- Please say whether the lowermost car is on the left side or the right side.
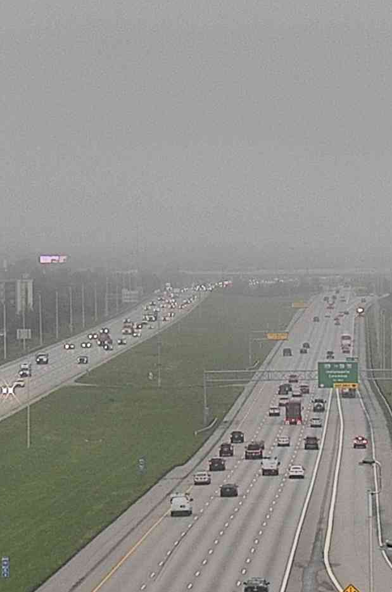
right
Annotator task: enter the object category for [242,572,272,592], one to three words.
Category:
car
